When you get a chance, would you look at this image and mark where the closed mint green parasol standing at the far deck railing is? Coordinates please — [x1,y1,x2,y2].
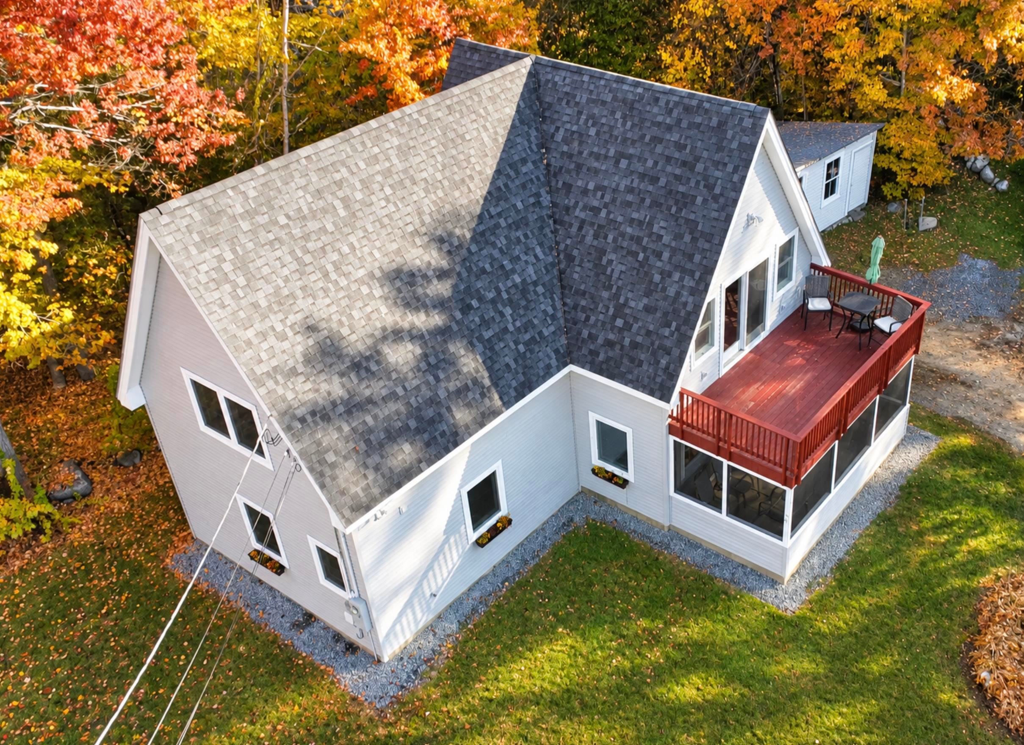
[863,230,886,311]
